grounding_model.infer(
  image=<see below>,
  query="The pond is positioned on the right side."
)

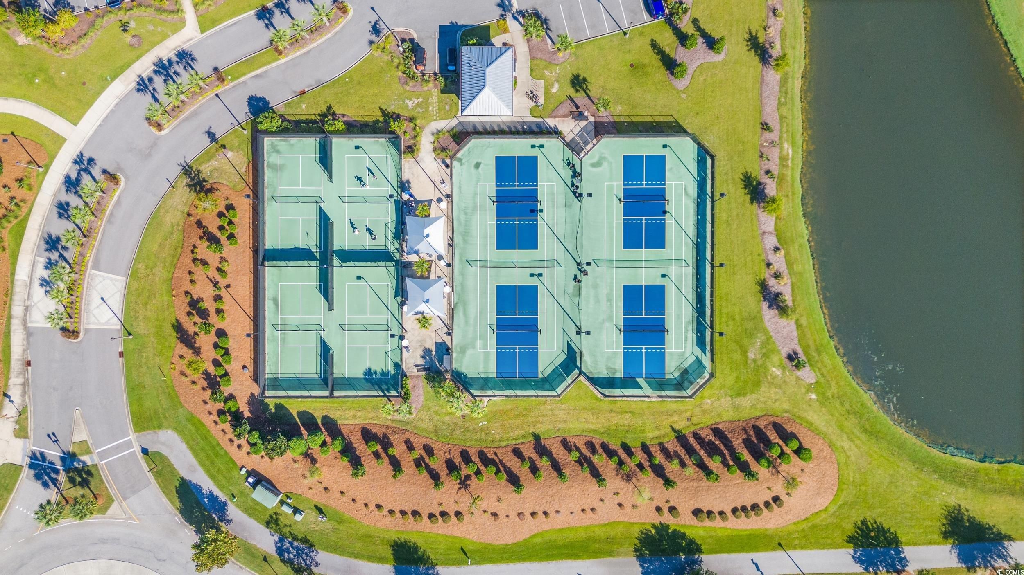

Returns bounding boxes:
[799,0,1024,464]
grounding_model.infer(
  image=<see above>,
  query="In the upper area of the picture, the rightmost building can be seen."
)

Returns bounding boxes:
[460,45,514,118]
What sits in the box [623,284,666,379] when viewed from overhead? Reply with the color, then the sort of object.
blue sports court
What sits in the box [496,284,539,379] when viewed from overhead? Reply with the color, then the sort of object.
blue sports court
